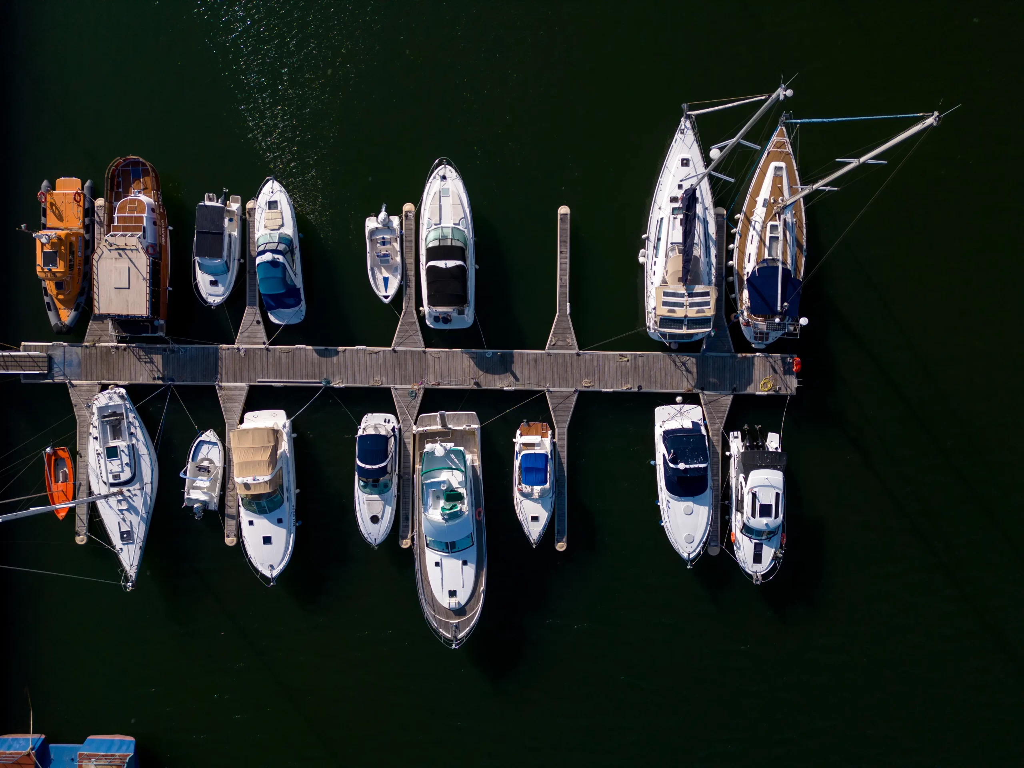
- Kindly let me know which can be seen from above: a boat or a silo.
boat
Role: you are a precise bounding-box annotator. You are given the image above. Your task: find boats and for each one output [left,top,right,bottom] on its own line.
[420,157,475,329]
[179,429,225,520]
[733,99,962,348]
[366,205,402,303]
[91,153,172,341]
[726,426,787,584]
[230,410,298,586]
[644,73,798,348]
[355,413,400,549]
[255,177,310,325]
[652,396,714,566]
[0,439,77,521]
[18,177,95,334]
[0,388,158,592]
[514,419,555,547]
[192,188,245,308]
[415,410,486,648]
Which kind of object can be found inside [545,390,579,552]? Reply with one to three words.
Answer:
pier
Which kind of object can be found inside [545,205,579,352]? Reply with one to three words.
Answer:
pier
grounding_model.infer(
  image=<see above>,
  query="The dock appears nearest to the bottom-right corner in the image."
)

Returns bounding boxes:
[698,392,734,555]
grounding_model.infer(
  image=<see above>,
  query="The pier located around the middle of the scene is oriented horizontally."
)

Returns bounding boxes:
[22,342,803,395]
